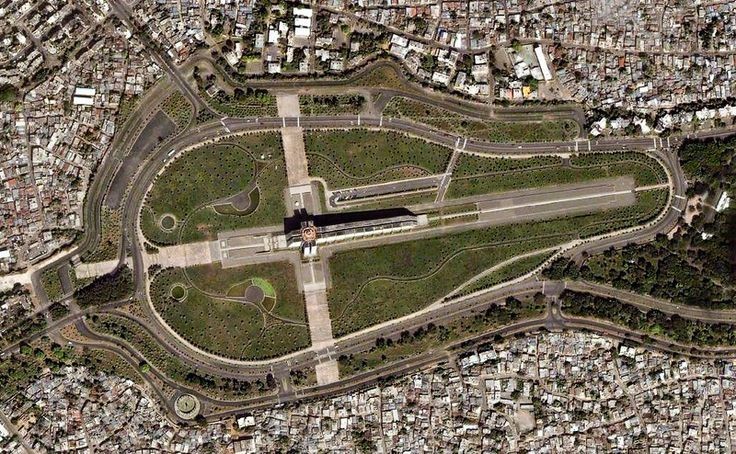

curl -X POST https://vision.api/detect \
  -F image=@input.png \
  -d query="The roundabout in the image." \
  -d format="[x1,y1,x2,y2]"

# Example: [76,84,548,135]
[170,389,204,424]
